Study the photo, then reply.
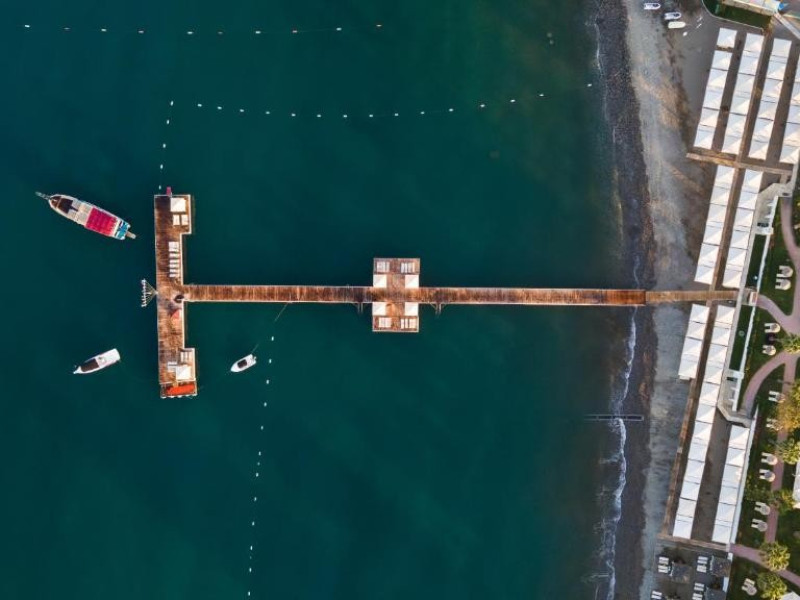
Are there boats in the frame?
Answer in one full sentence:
Yes, I can see a boat in this picture.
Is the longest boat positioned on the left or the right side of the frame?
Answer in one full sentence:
The longest boat sits on the left side.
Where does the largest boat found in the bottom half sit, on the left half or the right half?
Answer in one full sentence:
The largest boat found in the bottom half sits on the left side.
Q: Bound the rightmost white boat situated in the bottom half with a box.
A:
[231,355,255,371]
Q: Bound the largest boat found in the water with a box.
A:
[33,193,137,240]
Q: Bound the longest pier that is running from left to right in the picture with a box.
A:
[154,195,738,385]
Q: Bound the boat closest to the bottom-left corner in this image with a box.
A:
[73,348,123,374]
